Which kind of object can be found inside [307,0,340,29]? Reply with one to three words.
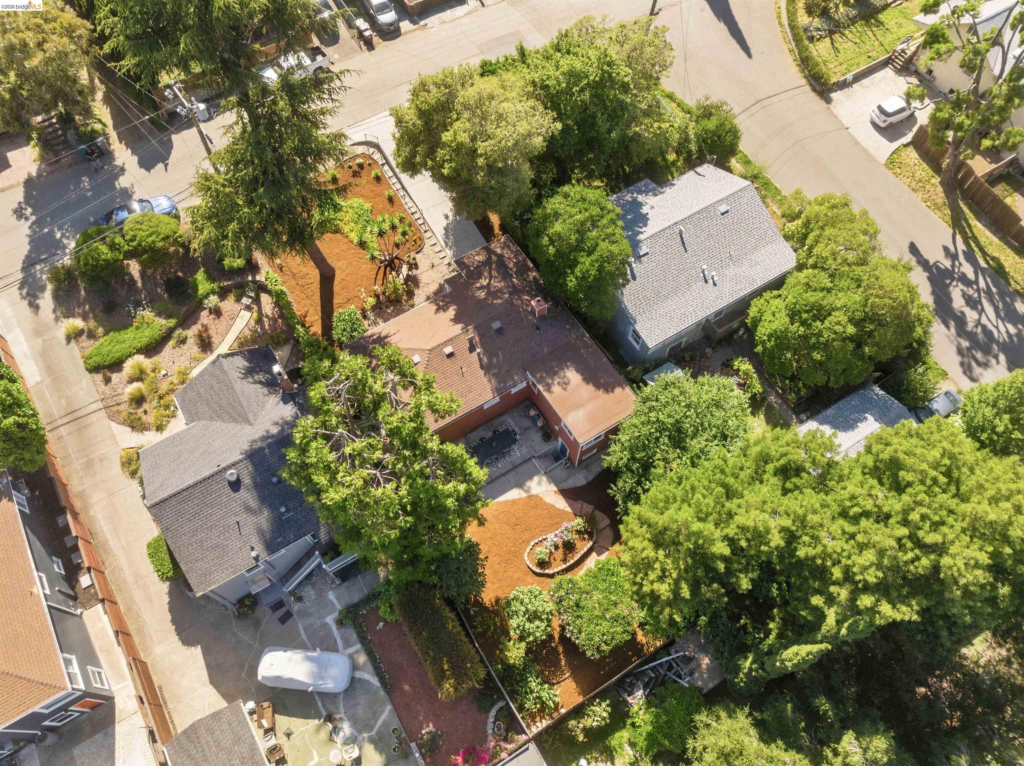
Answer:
car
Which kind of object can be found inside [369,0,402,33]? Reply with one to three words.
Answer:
car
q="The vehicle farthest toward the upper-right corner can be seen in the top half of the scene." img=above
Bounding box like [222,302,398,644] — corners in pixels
[874,96,928,132]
